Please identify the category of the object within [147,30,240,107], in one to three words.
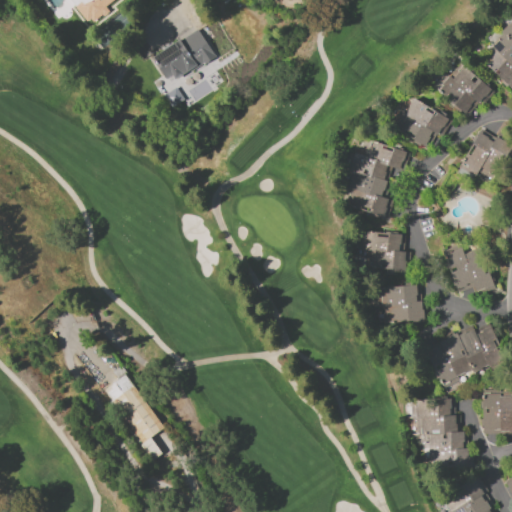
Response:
house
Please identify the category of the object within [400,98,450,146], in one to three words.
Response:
building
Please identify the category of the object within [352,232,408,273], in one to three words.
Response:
building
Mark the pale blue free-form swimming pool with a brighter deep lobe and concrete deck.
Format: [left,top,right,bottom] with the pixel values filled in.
[441,190,491,234]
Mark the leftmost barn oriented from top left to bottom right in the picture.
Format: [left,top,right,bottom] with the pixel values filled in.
[106,376,164,458]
